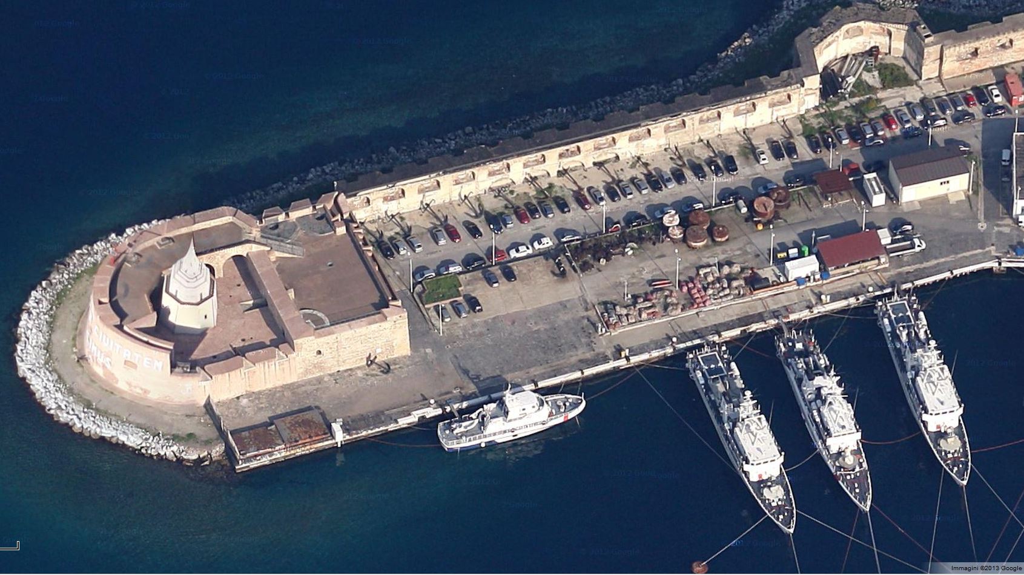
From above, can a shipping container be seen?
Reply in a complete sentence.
Yes, the image includes a shipping container.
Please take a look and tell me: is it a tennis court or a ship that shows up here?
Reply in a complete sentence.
The image shows a ship.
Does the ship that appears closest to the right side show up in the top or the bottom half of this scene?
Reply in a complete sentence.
You can find the ship that appears closest to the right side in the bottom half.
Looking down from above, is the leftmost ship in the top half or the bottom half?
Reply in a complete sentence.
It is in the bottom half that the leftmost ship appears.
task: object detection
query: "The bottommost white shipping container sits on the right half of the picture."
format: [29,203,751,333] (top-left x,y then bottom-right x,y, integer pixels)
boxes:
[786,255,821,280]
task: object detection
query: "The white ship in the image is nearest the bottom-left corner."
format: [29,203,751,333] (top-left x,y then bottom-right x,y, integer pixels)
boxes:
[436,389,585,453]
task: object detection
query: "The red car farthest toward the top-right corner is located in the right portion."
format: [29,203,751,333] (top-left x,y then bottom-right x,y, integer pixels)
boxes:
[962,91,980,109]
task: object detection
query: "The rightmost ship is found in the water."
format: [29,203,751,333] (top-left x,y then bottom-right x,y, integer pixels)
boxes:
[878,285,968,485]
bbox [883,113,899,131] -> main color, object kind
red car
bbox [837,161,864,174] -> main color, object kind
red vehicle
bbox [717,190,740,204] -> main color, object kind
black car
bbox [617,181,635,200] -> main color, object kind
gray car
